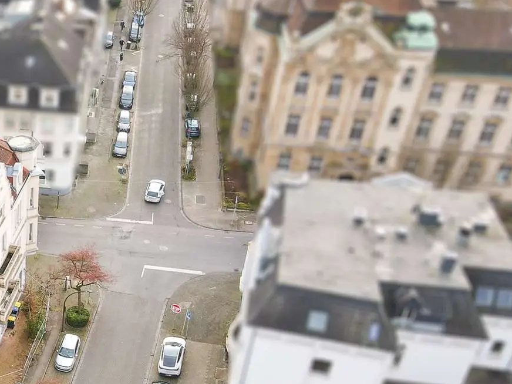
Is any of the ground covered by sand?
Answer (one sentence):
No, sand can't be seen anywhere here.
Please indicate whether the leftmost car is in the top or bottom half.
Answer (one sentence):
It is in the bottom half that the leftmost car appears.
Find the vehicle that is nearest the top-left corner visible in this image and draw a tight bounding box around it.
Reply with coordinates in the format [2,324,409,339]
[102,31,116,46]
